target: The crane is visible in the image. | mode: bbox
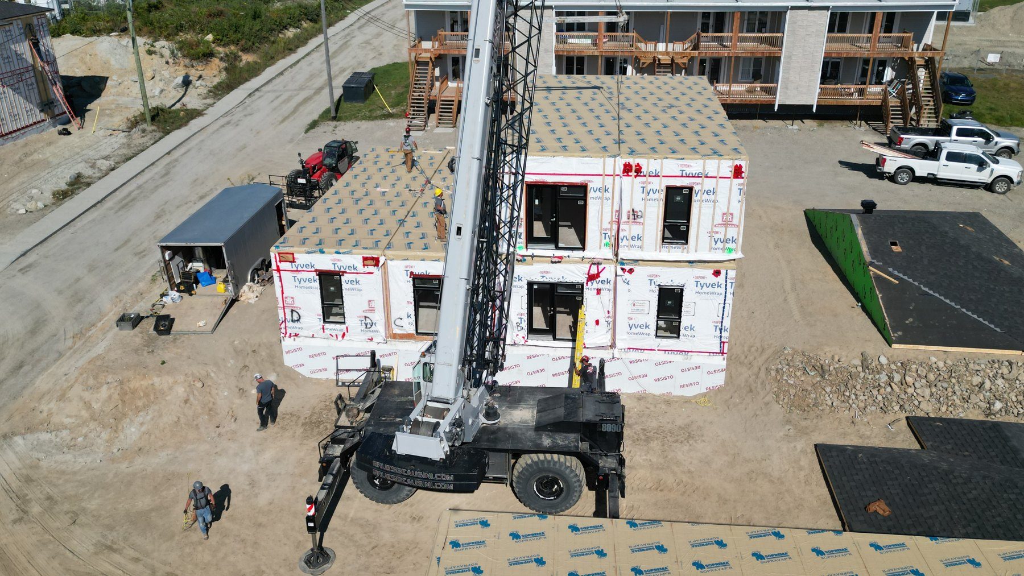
[298,0,630,575]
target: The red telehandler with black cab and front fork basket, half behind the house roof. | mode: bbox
[259,135,371,206]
